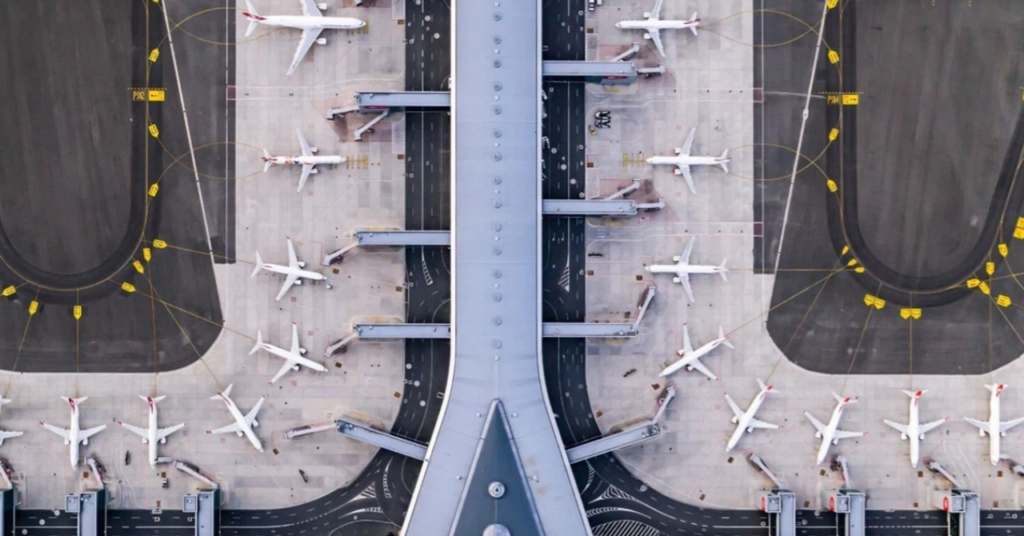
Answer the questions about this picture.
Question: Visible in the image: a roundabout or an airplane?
airplane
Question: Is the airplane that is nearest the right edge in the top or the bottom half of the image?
bottom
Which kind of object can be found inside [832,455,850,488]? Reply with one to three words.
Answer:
jet bridge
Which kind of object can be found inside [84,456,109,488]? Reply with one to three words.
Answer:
jet bridge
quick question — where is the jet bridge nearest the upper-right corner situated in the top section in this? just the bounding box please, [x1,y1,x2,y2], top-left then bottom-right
[636,63,666,81]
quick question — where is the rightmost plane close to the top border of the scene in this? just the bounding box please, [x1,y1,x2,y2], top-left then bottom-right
[615,0,699,56]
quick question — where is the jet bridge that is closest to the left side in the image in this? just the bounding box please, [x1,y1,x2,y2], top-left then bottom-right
[0,456,20,489]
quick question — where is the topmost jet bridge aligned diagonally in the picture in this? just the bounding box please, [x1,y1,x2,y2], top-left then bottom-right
[612,42,639,61]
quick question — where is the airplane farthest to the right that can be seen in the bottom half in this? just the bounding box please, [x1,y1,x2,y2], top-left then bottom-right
[962,382,1024,464]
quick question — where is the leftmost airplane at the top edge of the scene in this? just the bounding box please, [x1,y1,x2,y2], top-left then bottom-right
[241,0,366,75]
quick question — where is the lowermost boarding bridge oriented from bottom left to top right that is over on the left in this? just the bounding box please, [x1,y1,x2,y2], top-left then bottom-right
[325,332,356,357]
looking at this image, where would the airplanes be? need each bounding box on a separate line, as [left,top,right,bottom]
[42,395,108,468]
[659,326,731,383]
[645,236,728,302]
[962,382,1024,464]
[210,383,266,451]
[804,391,866,464]
[883,394,950,467]
[724,383,779,450]
[262,126,346,193]
[241,0,366,75]
[615,0,699,56]
[646,126,731,193]
[254,325,329,386]
[252,237,328,301]
[119,396,185,468]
